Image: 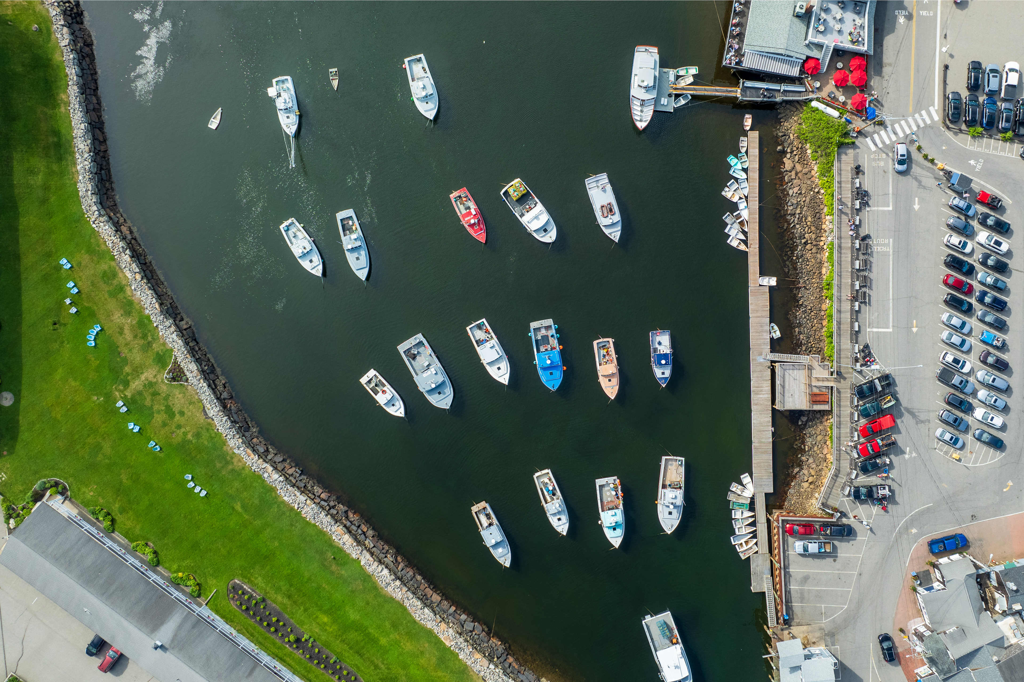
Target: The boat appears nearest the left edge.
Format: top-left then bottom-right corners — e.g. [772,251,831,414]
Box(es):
[208,107,222,129]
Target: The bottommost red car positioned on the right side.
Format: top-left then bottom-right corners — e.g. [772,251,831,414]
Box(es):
[785,523,815,537]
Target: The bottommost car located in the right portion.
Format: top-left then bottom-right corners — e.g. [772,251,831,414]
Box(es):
[878,632,895,664]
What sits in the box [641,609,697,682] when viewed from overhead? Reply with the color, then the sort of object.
white boat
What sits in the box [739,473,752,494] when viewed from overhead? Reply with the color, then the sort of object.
white boat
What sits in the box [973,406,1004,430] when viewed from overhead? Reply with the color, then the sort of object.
white car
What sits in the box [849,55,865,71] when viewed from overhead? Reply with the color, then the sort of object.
red umbrella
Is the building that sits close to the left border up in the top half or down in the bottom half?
bottom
